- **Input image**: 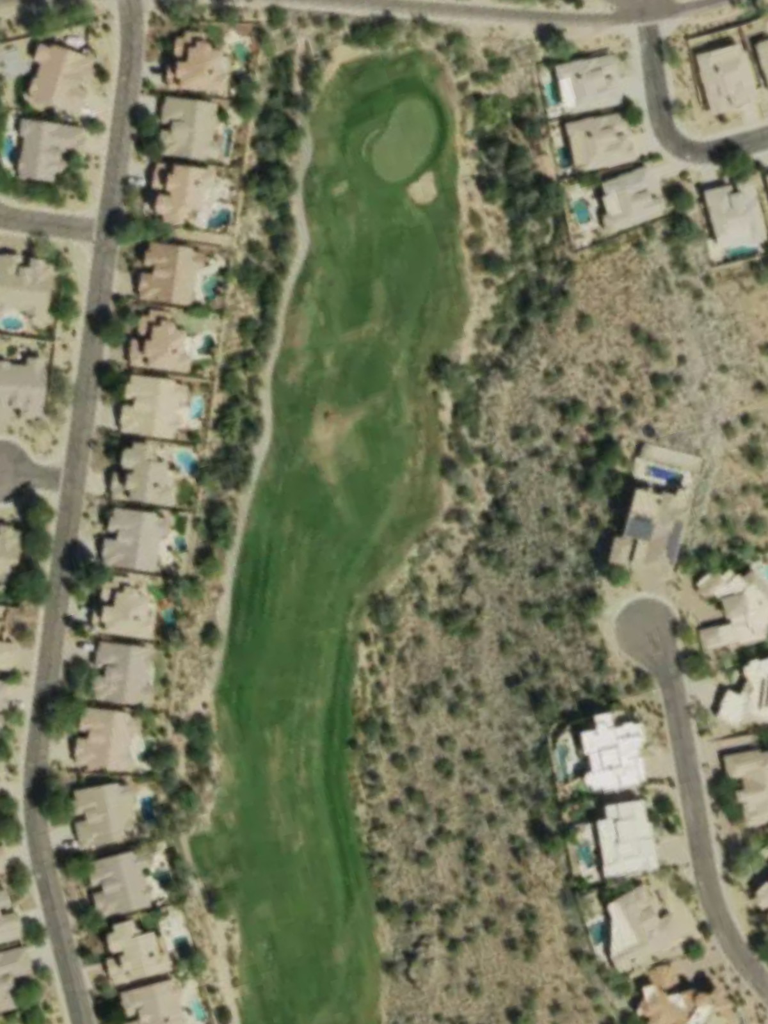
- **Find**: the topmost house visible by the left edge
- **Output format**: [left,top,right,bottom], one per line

[23,39,95,110]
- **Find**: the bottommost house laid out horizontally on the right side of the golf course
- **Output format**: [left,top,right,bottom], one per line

[639,989,724,1024]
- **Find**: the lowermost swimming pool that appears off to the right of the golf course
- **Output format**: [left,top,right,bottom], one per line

[589,919,608,946]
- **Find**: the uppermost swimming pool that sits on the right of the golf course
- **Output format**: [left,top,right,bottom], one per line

[544,72,560,105]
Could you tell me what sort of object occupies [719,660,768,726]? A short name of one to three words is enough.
house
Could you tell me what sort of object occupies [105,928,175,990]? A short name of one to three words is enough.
house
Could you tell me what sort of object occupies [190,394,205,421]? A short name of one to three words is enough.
swimming pool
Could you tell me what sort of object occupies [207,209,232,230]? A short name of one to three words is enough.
swimming pool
